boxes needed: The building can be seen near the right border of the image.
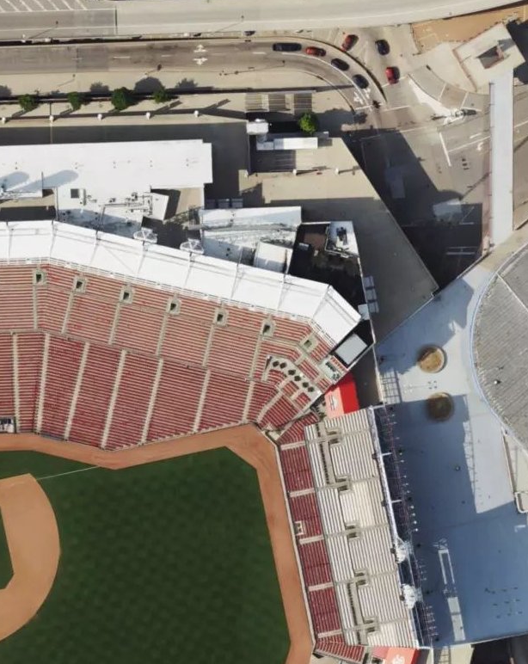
[453,22,528,92]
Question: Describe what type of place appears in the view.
sports ground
